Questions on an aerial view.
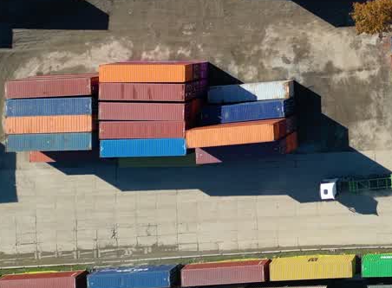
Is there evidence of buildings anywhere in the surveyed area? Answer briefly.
No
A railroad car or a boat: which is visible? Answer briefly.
railroad car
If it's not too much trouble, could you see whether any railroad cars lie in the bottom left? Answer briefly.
Yes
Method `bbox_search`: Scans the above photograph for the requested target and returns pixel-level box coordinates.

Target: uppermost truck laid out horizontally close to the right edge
[313,173,392,205]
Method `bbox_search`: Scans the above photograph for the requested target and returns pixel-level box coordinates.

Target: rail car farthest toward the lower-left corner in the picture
[6,264,180,287]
